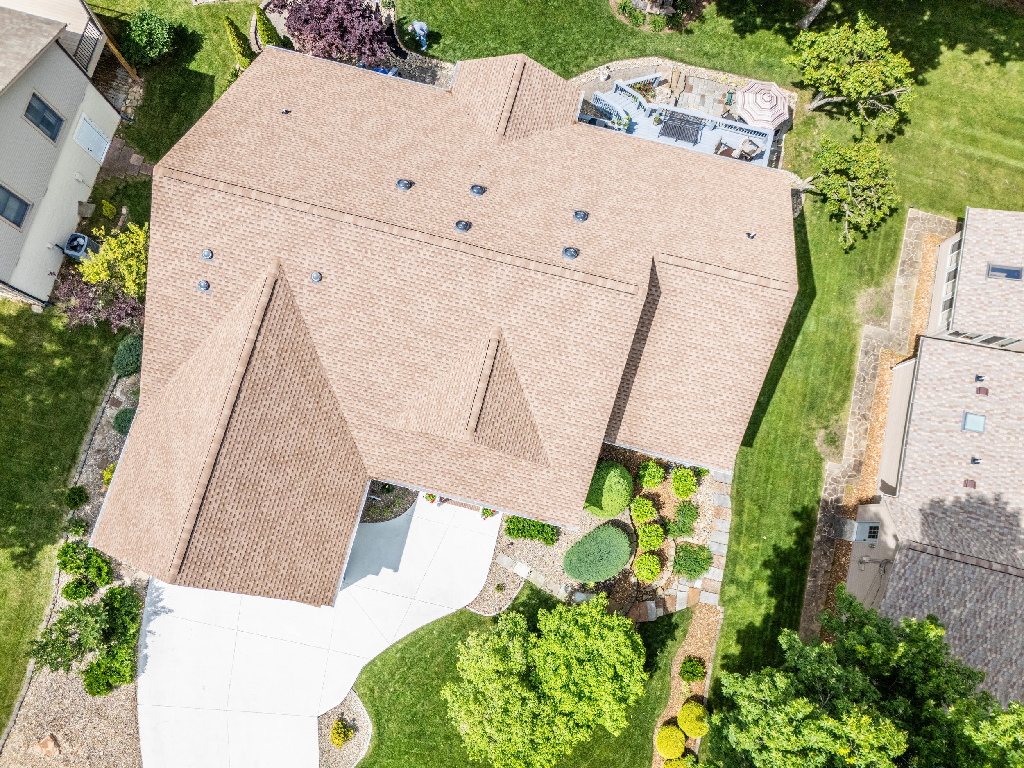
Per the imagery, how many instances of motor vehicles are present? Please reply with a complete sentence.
There are no motor vehicles in the image.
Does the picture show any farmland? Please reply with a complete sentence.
No, there is no farmland in the image.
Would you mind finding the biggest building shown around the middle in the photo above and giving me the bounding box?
[88,42,798,608]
